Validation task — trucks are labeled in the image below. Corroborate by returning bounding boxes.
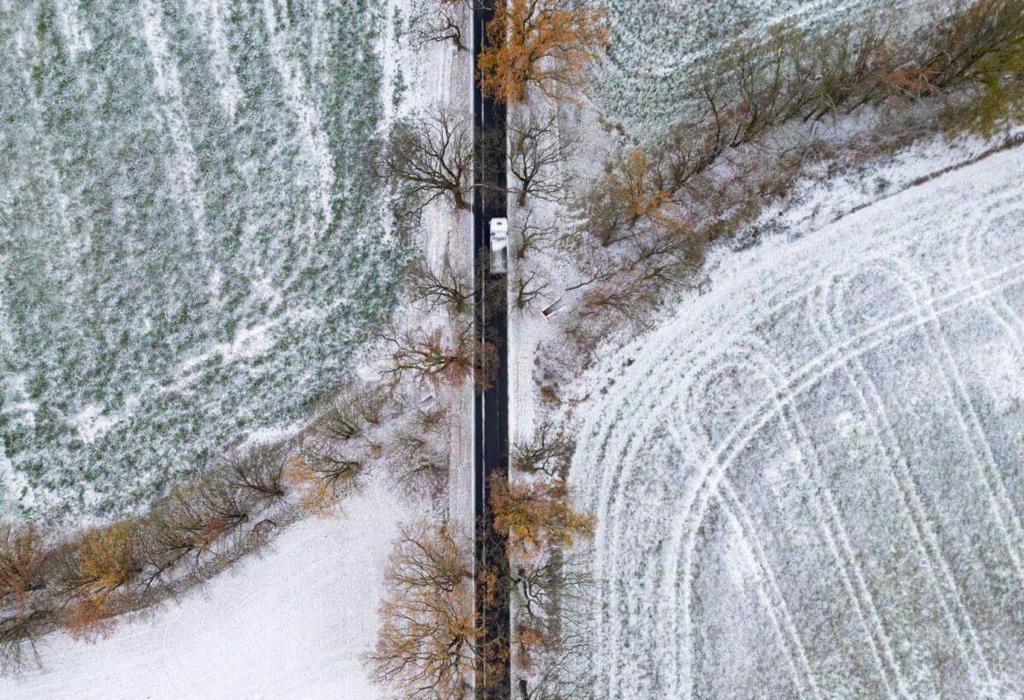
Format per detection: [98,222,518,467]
[488,217,510,275]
